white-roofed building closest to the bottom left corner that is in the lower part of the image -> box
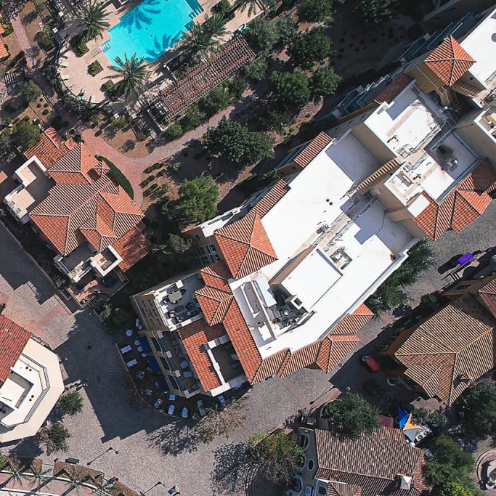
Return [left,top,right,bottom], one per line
[0,338,65,443]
